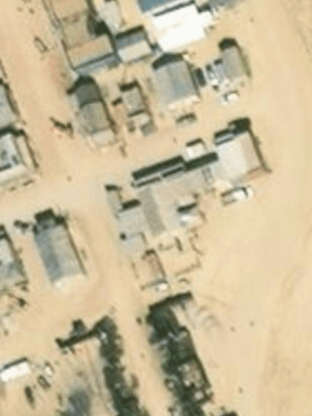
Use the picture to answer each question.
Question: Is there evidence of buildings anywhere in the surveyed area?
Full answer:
Yes, the frame does contain a building.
